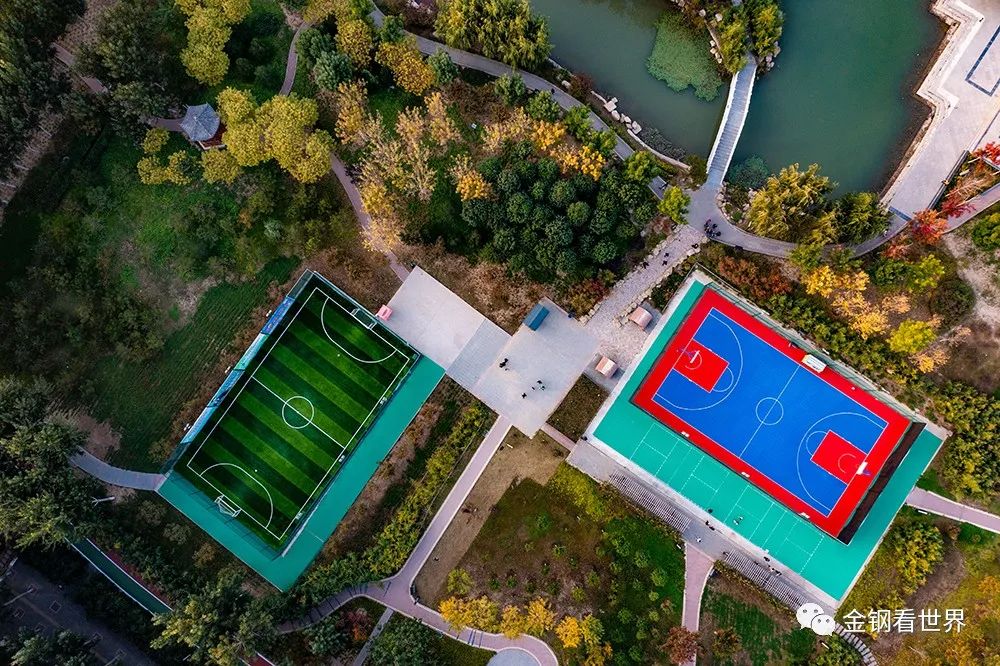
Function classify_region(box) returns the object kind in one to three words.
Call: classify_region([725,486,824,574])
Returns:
sports court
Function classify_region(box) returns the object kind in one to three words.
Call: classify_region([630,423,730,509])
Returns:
sports court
